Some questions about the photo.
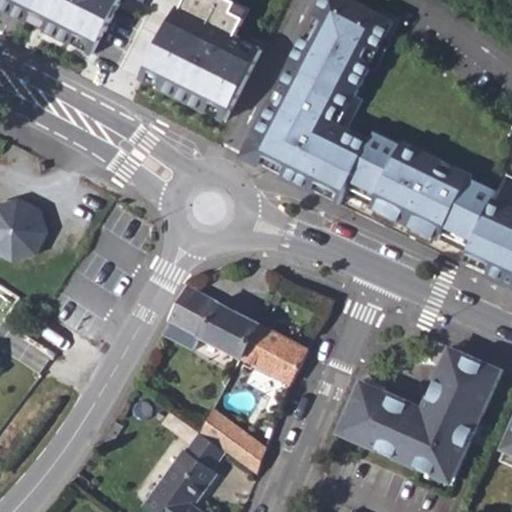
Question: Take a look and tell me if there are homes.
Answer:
Yes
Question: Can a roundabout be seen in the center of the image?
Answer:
Yes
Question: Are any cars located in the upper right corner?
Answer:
Yes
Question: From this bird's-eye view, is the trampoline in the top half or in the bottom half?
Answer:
bottom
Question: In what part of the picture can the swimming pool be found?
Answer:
bottom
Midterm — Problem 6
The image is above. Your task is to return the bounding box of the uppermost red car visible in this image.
[333,223,355,238]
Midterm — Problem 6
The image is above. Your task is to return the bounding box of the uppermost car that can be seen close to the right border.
[473,71,492,89]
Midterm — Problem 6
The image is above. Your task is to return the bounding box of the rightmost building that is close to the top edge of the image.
[240,0,396,202]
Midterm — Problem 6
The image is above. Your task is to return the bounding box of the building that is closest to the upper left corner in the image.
[0,0,114,54]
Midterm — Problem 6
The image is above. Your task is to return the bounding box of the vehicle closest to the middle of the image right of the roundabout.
[302,228,326,244]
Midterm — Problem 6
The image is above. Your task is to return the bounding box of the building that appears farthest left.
[0,192,50,266]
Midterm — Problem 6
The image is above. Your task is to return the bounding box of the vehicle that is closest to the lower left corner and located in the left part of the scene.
[41,330,70,351]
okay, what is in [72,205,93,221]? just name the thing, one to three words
car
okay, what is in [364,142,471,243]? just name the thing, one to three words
building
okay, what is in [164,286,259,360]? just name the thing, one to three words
house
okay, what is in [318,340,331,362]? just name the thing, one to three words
vehicle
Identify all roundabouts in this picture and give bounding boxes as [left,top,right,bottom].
[160,156,270,282]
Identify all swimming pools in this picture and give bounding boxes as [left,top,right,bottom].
[224,392,256,413]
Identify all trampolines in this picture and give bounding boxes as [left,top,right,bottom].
[134,400,153,420]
